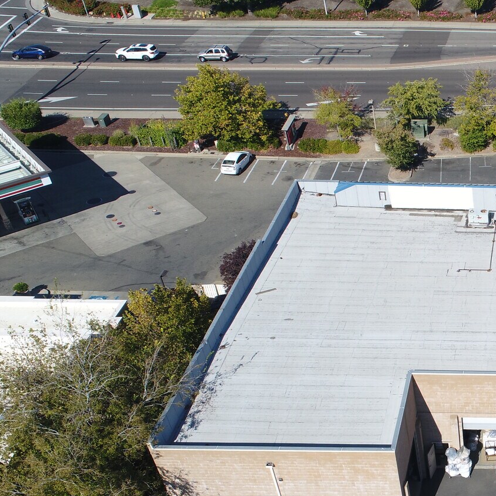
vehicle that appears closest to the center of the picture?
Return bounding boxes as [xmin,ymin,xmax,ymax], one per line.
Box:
[224,144,259,171]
